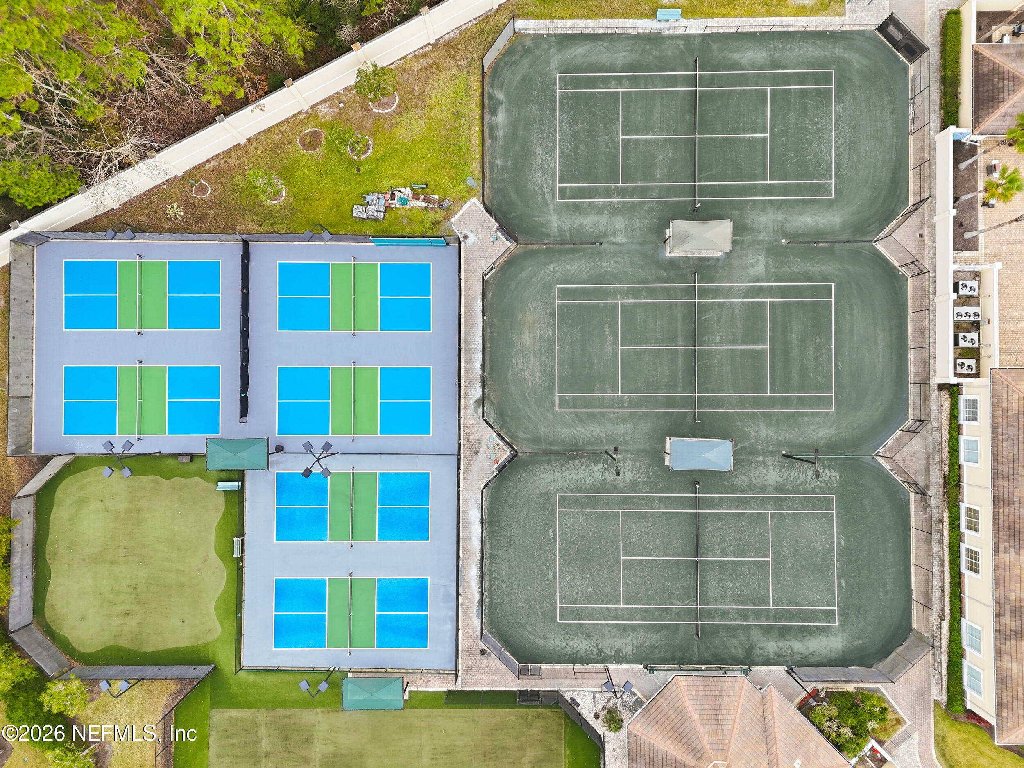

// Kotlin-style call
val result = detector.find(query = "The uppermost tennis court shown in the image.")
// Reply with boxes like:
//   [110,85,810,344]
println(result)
[486,31,910,243]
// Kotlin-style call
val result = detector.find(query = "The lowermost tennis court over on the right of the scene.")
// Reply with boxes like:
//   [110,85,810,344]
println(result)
[484,454,912,668]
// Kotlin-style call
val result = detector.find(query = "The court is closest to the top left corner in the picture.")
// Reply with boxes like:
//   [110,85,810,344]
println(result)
[63,259,221,331]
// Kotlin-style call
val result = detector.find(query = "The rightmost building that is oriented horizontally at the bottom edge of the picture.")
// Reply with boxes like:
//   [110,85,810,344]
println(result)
[624,671,857,768]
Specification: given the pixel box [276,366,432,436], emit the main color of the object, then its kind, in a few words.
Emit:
blue sports court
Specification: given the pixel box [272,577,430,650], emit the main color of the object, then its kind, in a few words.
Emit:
blue sports court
